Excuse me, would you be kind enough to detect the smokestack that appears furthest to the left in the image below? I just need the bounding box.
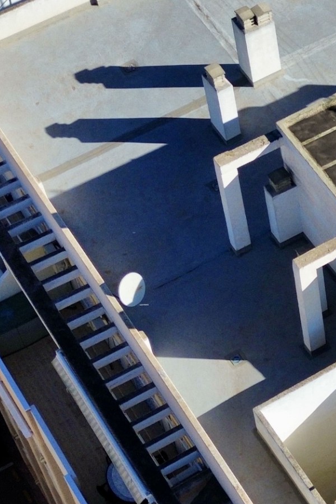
[203,61,245,144]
